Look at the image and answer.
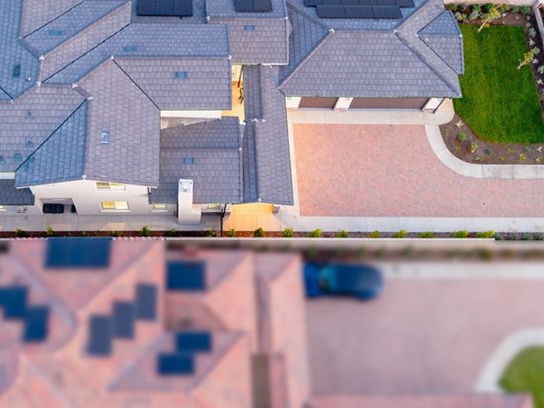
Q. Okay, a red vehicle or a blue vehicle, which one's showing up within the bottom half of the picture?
blue vehicle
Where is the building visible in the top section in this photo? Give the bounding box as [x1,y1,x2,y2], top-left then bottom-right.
[0,0,464,224]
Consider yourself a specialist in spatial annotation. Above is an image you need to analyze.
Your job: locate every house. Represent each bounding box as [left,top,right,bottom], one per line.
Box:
[0,0,464,224]
[0,236,533,408]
